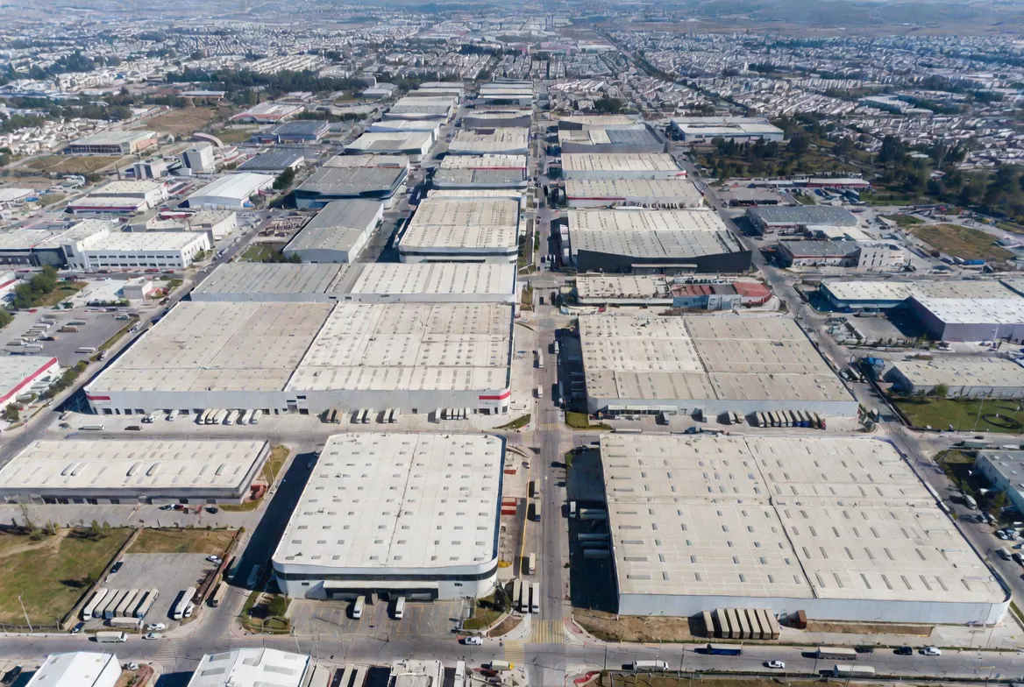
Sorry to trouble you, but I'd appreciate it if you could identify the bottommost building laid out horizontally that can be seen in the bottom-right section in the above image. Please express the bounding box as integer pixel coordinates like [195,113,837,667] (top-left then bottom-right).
[596,435,1005,621]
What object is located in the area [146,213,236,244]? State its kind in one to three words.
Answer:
building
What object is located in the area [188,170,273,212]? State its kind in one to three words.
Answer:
hangar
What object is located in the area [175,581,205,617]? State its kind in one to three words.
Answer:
bus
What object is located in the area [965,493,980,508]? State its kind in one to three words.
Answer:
vehicle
